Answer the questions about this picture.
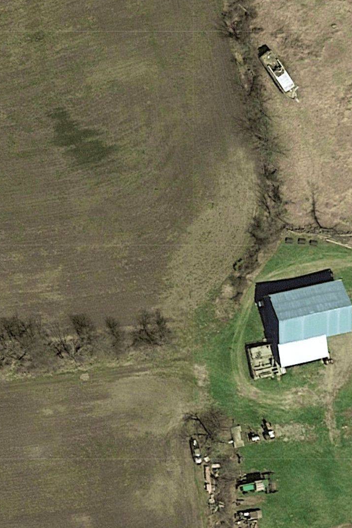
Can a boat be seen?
Yes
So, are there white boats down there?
Yes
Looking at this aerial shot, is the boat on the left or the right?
right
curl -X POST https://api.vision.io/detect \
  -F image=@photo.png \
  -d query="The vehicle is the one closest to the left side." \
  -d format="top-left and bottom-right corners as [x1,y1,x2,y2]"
[190,439,202,465]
